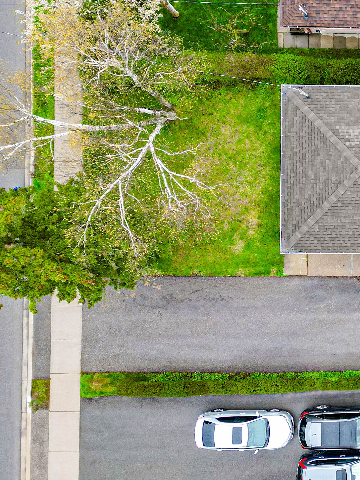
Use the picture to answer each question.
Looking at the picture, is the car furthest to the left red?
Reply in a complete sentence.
No, from above the car furthest to the left looks white.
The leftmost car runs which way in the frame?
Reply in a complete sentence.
In this picture, the leftmost car is oriented from side to side.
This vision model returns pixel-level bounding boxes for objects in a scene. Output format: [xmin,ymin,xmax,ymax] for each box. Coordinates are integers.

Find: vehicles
[299,402,360,449]
[297,448,360,480]
[195,406,296,457]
